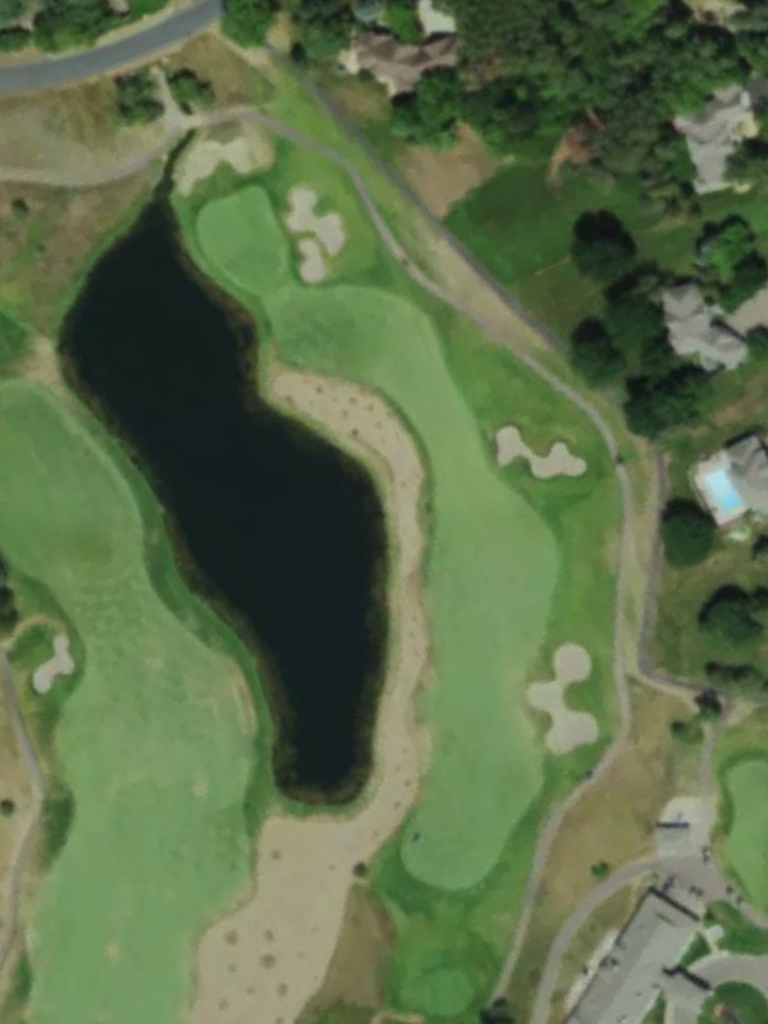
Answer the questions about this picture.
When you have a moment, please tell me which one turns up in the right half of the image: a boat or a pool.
pool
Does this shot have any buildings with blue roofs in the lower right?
No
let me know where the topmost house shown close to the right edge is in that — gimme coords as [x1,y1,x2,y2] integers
[676,81,760,195]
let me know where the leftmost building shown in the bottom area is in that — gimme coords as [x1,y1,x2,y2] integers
[562,890,713,1024]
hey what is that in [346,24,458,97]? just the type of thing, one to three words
house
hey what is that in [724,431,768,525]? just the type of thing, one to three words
house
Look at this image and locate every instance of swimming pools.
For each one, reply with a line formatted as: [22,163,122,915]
[705,469,742,512]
